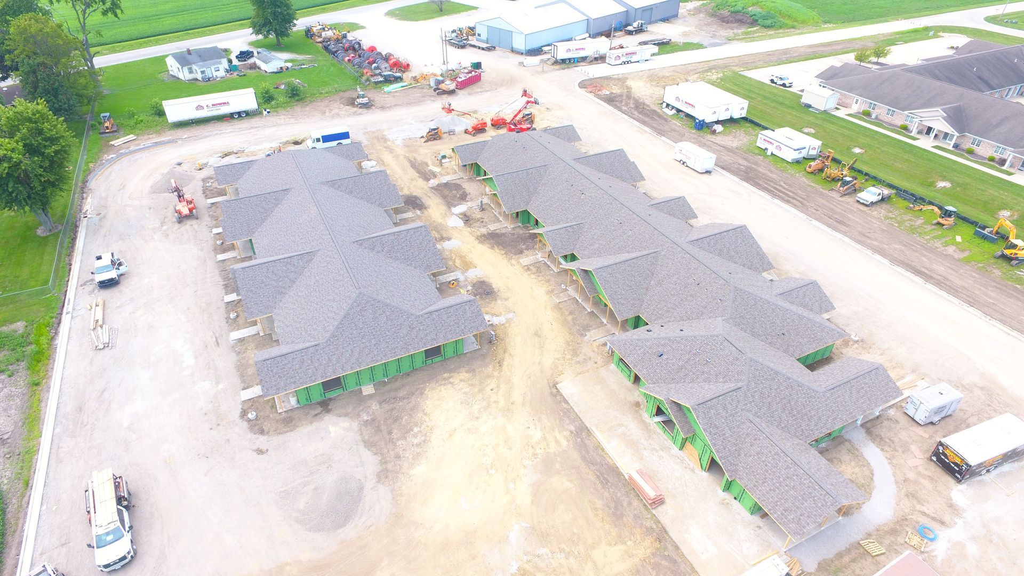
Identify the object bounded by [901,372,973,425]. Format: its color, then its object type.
white trailer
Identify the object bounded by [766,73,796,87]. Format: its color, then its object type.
white vehicle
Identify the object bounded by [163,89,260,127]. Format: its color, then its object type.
white trailer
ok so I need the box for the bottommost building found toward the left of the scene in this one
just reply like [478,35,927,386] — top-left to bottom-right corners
[212,141,490,413]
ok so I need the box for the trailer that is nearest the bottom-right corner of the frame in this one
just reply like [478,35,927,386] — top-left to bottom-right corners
[931,403,1024,484]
